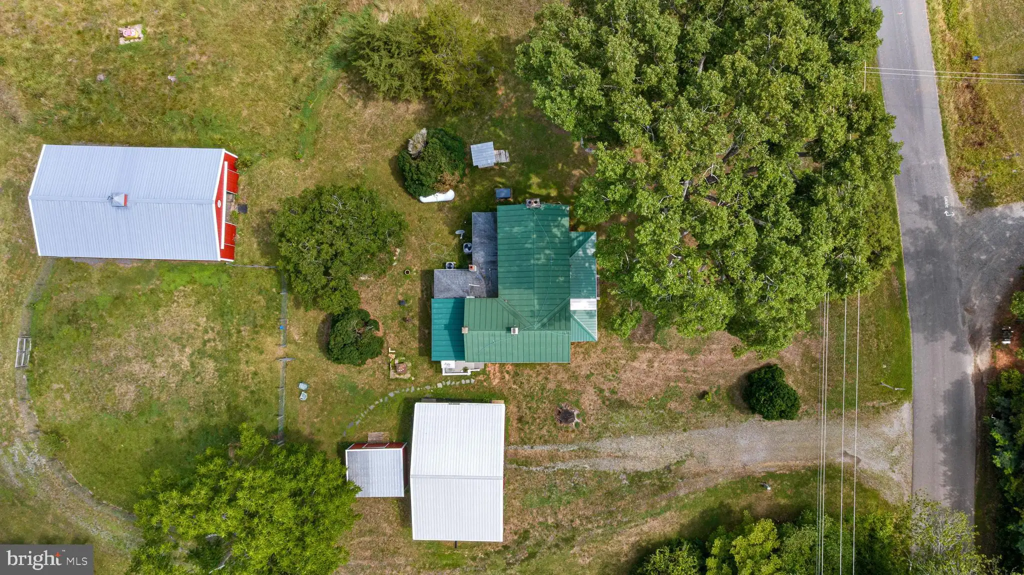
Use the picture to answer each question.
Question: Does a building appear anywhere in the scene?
Yes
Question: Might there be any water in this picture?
No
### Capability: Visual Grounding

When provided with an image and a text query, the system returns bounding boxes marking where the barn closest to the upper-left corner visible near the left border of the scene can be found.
[27,144,239,262]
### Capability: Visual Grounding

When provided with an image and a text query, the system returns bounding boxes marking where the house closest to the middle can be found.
[431,199,600,376]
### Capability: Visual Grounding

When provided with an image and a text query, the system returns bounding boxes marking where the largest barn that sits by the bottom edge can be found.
[409,398,506,550]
